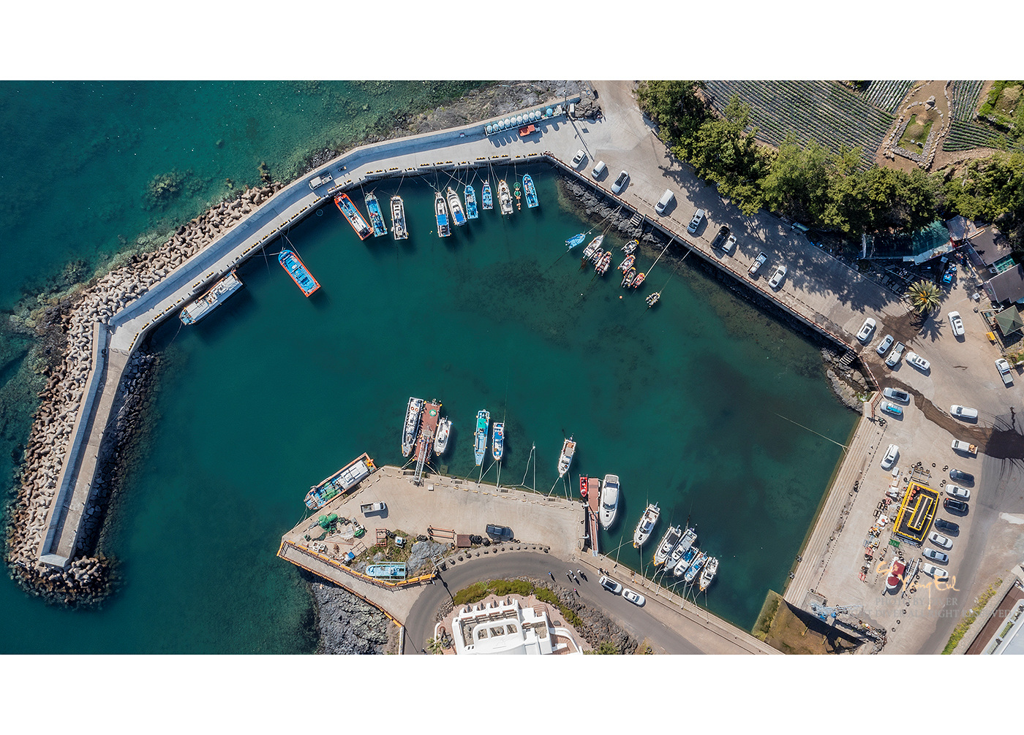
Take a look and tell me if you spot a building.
Yes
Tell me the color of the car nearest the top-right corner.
white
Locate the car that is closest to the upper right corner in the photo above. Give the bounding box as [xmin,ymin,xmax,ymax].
[946,311,968,337]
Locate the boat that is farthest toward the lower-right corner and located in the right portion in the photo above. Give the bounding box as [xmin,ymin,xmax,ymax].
[885,556,908,592]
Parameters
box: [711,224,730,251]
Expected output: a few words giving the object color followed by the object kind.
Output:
black vehicle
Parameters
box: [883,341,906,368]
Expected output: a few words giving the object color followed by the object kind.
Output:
white truck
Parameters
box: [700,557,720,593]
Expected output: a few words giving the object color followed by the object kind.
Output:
white boat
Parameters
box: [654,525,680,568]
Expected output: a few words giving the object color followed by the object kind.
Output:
white boat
